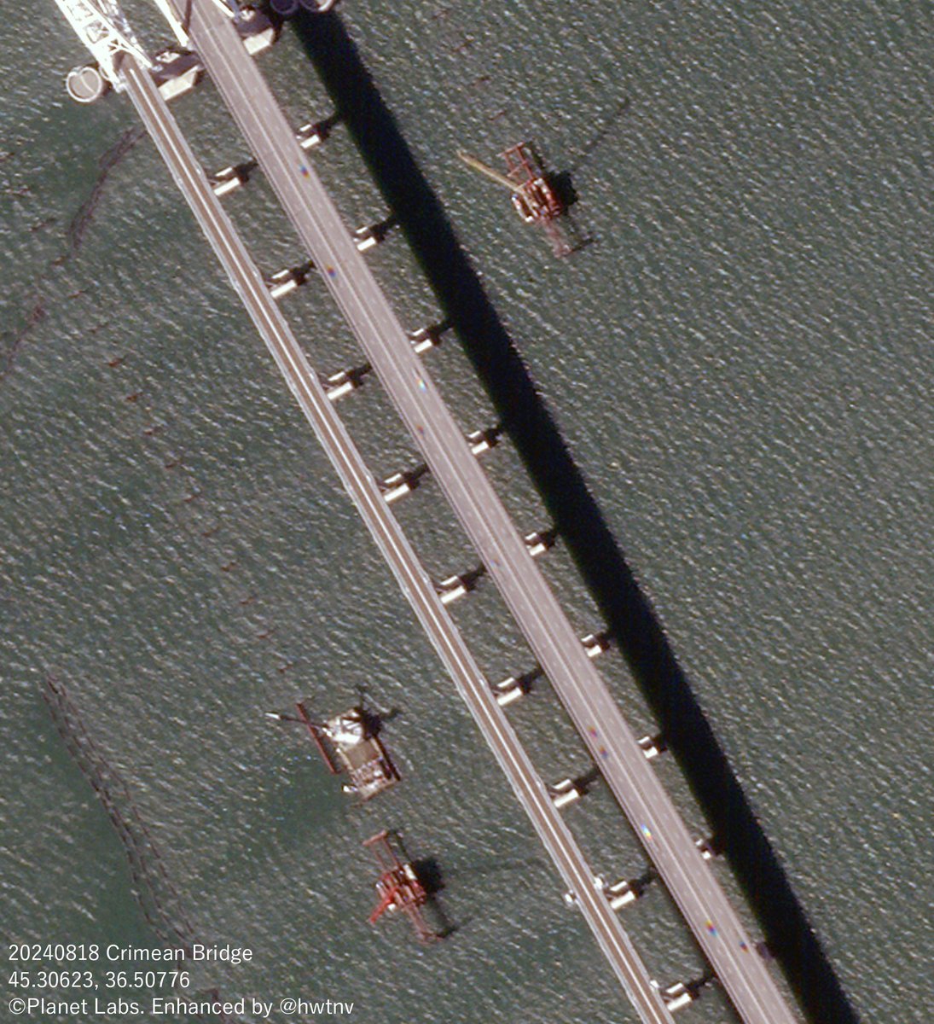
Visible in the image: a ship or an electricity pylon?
ship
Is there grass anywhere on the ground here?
No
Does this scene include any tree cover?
No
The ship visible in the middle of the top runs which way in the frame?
diagonally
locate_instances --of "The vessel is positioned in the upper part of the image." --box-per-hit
[458,144,572,259]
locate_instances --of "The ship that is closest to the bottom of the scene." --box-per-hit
[367,832,437,943]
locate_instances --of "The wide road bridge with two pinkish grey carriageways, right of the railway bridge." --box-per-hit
[151,0,797,1024]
